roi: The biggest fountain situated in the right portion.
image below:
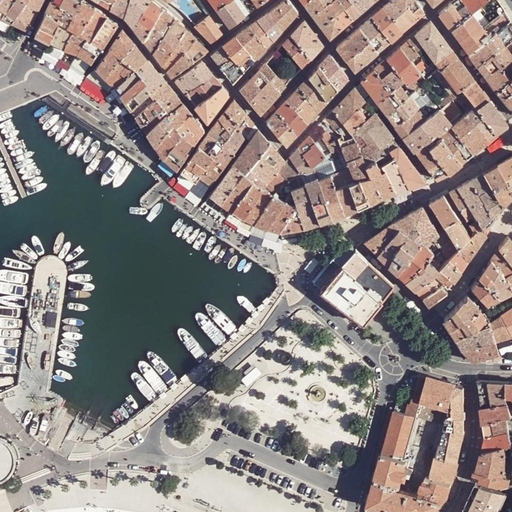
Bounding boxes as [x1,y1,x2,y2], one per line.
[306,382,328,402]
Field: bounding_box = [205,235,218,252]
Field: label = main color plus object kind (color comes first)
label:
white boat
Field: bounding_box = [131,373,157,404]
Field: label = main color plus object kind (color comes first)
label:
white boat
